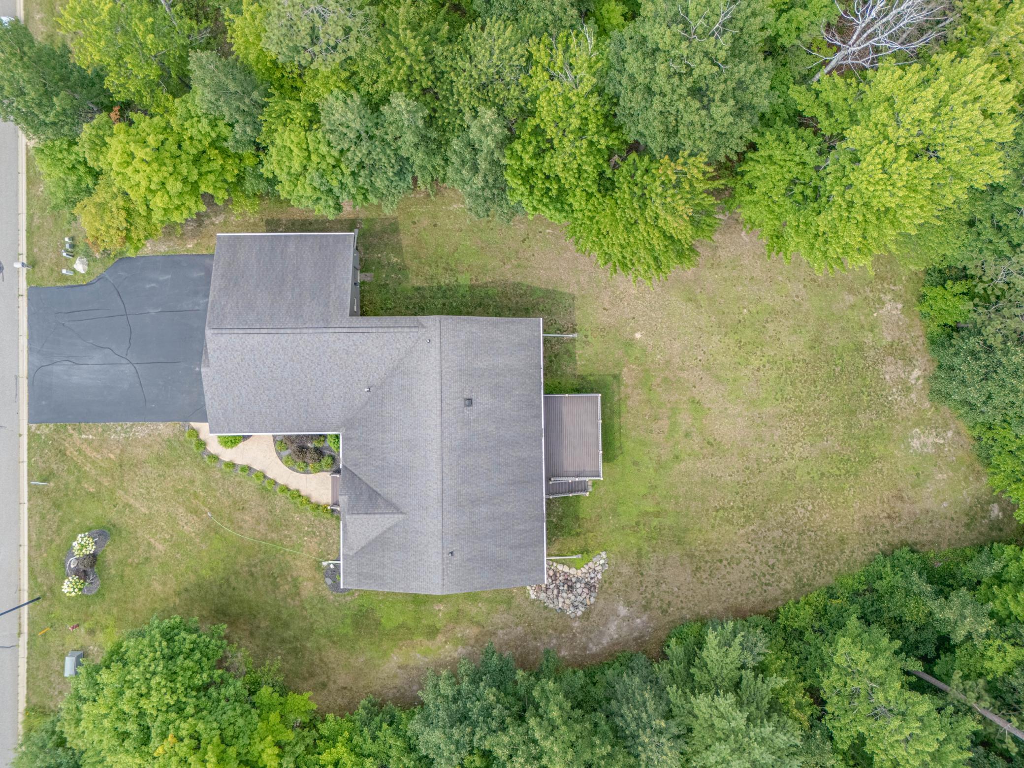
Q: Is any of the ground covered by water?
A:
No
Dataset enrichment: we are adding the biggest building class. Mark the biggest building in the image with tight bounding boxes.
[202,229,581,595]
